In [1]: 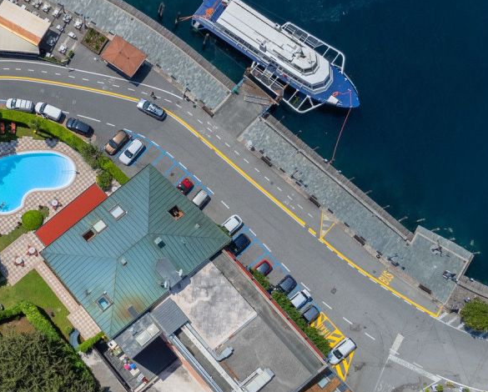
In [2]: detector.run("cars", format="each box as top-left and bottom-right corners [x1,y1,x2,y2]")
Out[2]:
[300,300,323,323]
[119,138,145,165]
[191,188,211,207]
[270,270,298,294]
[5,97,36,112]
[287,286,314,310]
[257,256,274,274]
[220,211,244,236]
[325,337,355,365]
[226,231,251,256]
[176,174,196,195]
[34,101,65,122]
[136,98,166,121]
[104,129,130,154]
[65,117,92,138]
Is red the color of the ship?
No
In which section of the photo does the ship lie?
top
